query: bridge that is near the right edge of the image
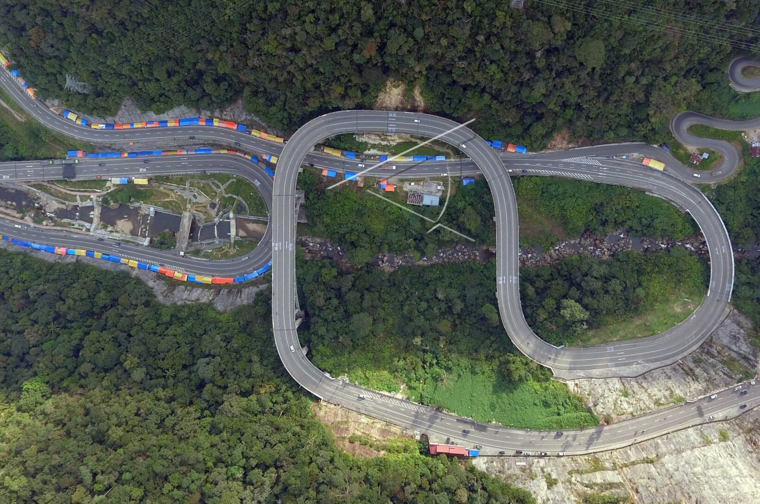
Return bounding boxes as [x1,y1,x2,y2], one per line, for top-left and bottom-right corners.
[688,196,734,298]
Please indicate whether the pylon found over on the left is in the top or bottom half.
top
